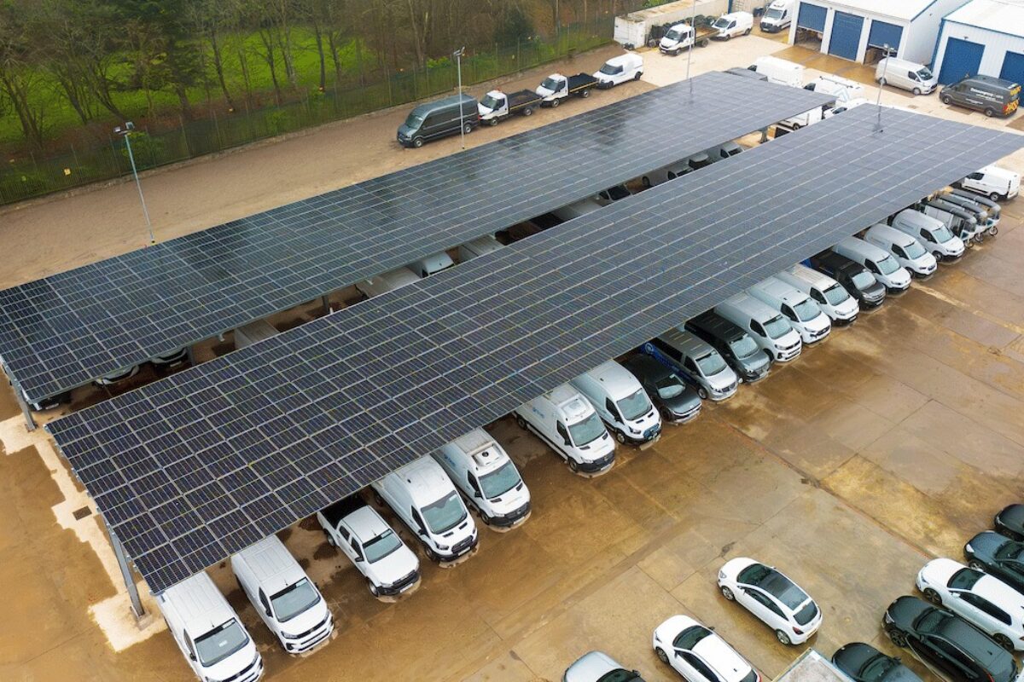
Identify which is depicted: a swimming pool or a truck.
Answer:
truck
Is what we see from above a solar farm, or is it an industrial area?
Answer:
solar farm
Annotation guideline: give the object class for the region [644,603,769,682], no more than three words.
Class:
car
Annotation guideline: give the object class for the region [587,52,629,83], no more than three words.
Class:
van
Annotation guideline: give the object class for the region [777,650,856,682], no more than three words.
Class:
trailer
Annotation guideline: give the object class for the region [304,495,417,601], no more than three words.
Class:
truck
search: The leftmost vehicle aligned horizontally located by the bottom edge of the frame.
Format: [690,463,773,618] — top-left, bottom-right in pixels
[575,645,660,682]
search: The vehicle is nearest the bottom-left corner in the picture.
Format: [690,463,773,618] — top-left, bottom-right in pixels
[140,575,257,682]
